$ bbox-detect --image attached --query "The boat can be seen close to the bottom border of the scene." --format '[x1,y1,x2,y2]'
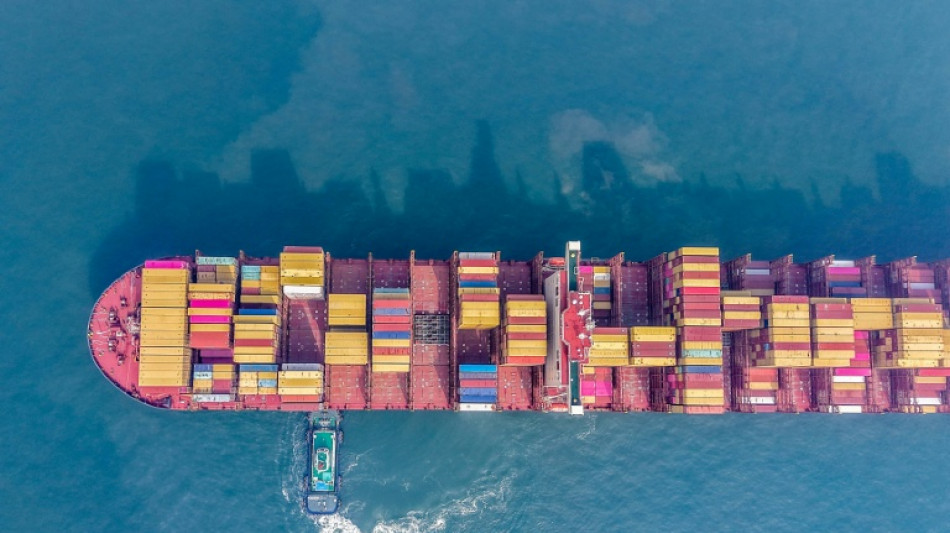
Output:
[303,411,344,515]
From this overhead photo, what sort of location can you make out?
port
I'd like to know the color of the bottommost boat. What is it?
blue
